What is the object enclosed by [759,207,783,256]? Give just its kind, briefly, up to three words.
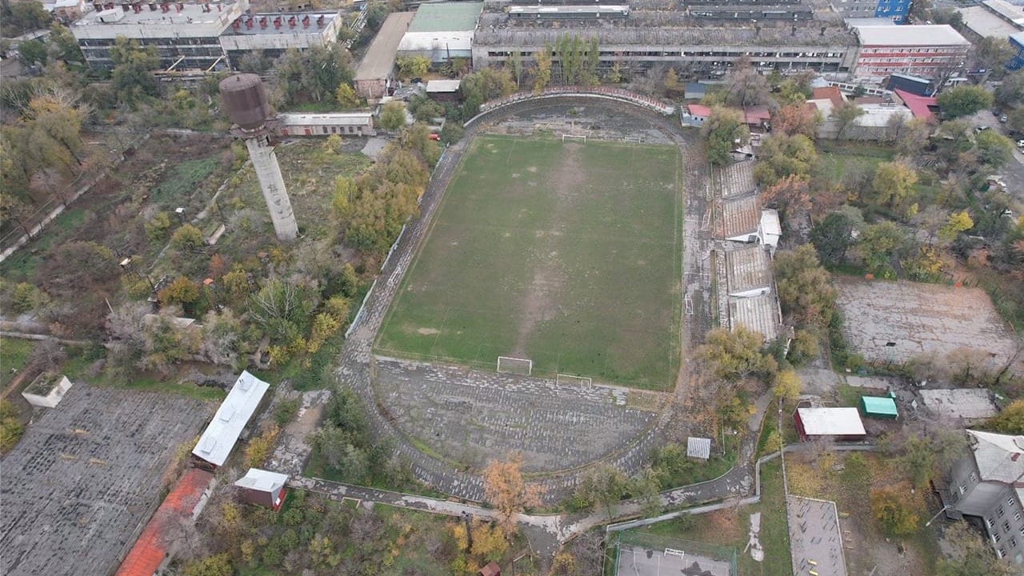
building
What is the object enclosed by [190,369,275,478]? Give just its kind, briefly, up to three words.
building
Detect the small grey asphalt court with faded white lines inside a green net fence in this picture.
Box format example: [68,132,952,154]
[617,547,731,576]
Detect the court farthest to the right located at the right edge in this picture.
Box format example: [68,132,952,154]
[835,277,1021,376]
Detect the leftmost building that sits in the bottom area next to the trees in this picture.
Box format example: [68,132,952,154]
[21,371,71,406]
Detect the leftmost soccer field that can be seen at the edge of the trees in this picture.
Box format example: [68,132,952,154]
[375,135,682,393]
